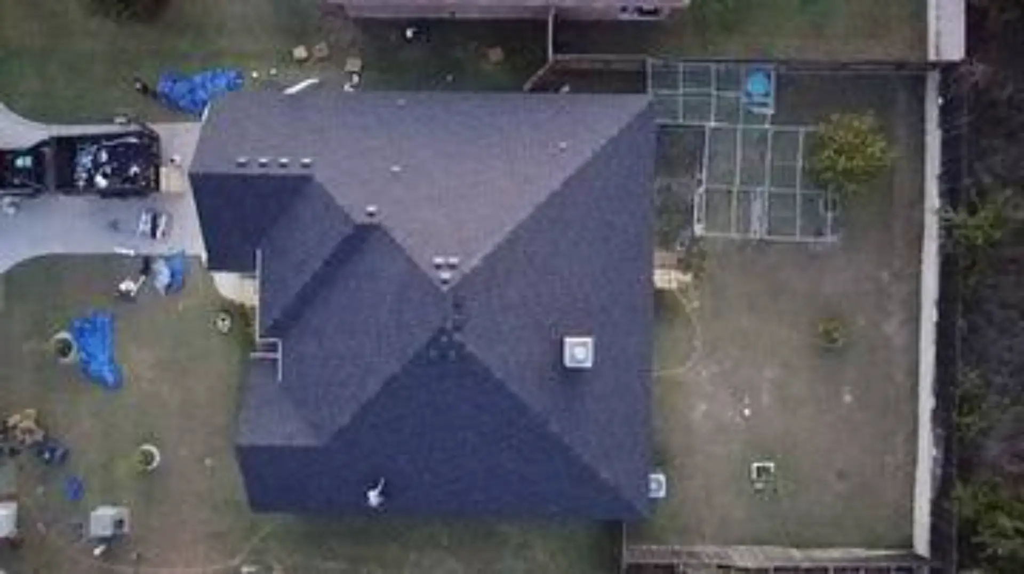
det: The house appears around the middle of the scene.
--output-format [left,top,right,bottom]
[189,88,654,520]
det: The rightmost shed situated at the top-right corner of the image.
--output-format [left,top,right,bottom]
[921,0,967,68]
